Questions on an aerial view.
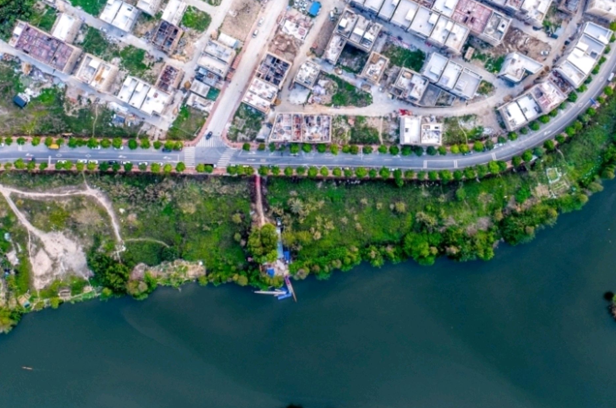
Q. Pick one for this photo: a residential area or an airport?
residential area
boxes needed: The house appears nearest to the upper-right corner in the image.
[583,0,616,20]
